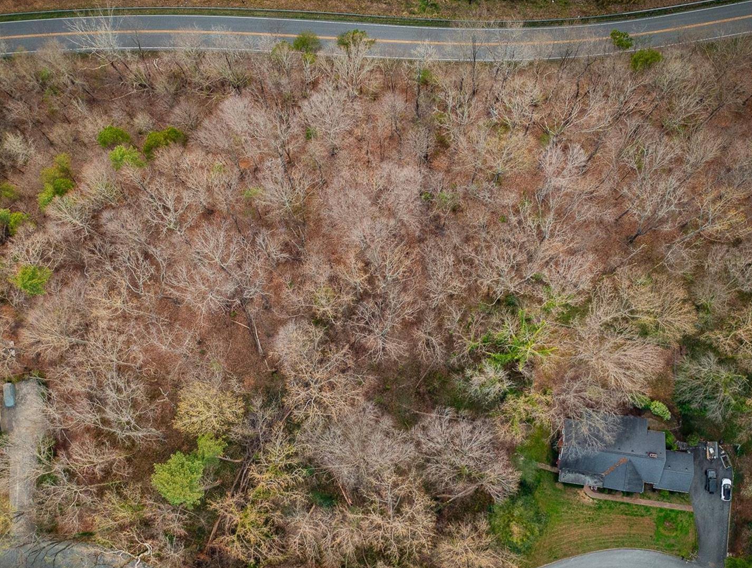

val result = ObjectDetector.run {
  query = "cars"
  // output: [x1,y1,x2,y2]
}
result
[719,476,734,503]
[705,469,719,494]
